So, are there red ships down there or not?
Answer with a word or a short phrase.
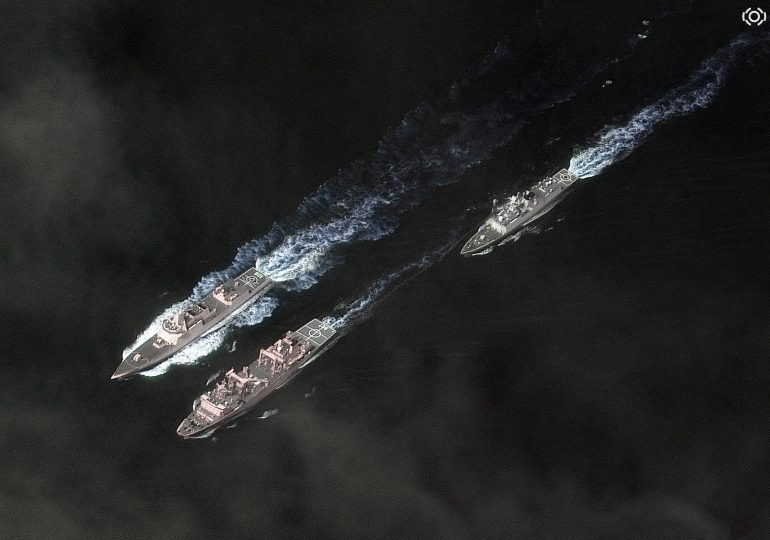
No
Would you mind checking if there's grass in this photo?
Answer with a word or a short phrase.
No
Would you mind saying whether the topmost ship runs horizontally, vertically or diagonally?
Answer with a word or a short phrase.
diagonally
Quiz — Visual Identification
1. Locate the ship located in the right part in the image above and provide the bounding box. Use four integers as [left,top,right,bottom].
[461,169,578,256]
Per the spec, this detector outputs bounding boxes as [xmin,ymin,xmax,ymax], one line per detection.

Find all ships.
[177,319,336,438]
[461,169,578,256]
[111,268,271,381]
